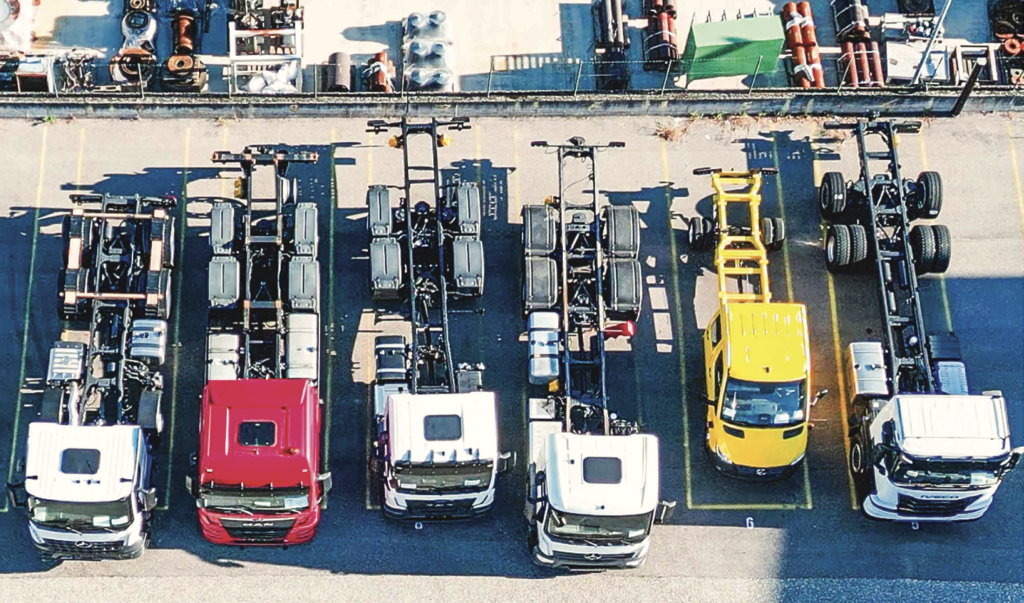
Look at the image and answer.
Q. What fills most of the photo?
paved ground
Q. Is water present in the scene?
No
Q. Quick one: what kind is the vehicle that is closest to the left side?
truck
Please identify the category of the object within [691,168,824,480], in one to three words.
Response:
van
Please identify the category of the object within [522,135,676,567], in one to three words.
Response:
truck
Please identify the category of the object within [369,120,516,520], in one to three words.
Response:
truck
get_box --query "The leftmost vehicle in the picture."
[7,197,176,558]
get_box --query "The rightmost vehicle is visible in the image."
[823,113,1024,525]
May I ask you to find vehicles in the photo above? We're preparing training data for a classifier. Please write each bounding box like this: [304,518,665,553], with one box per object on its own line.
[522,135,676,567]
[369,120,516,520]
[7,197,176,558]
[178,150,337,551]
[691,168,824,480]
[823,113,1024,525]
